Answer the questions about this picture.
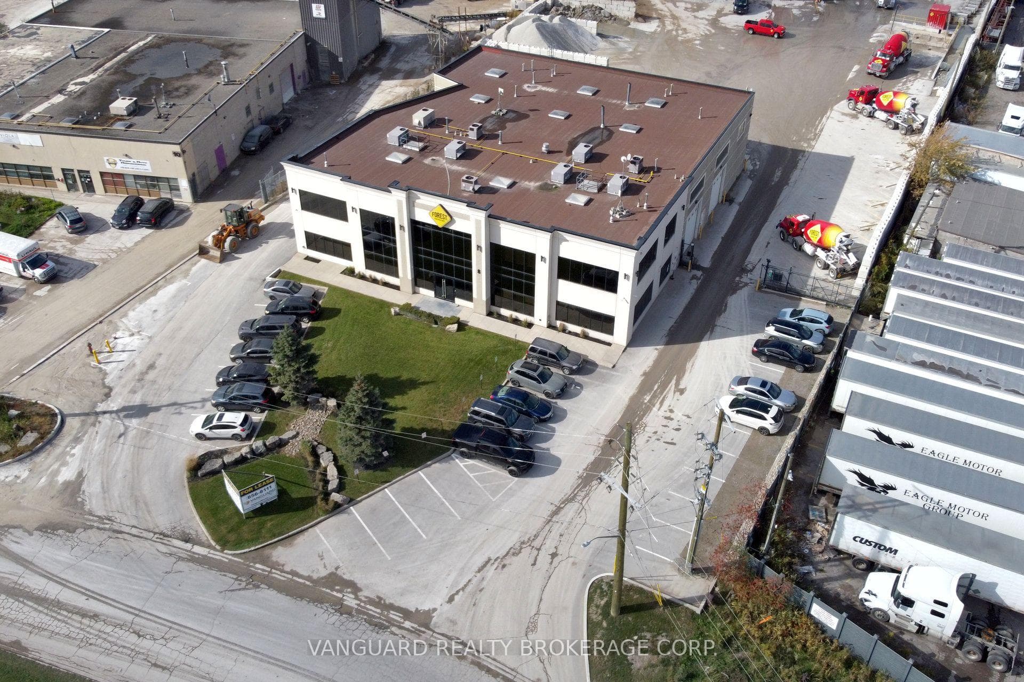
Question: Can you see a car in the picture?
Yes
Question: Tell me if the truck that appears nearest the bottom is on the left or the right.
right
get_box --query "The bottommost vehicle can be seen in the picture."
[861,570,1024,676]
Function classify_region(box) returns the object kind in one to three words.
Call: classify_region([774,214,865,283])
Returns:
truck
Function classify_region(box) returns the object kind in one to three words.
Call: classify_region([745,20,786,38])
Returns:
vehicle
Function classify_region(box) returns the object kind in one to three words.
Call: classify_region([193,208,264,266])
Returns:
work vehicle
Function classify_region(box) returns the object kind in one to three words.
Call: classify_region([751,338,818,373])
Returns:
car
